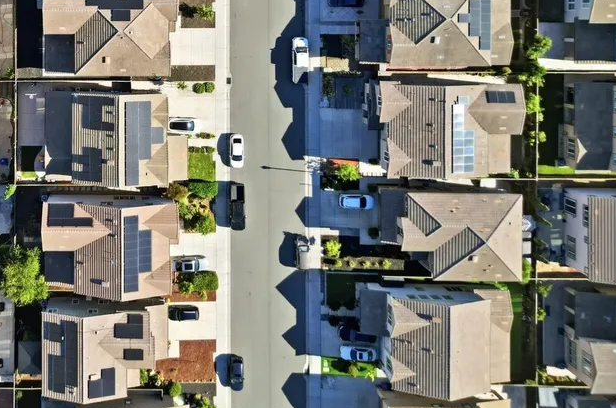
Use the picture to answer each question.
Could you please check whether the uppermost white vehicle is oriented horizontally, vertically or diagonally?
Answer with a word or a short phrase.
vertically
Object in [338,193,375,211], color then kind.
blue car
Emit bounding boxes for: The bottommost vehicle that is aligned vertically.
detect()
[229,352,246,389]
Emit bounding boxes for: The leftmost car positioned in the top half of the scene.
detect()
[171,117,207,134]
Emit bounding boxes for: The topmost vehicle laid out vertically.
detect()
[291,37,311,84]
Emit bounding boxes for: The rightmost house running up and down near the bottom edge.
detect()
[566,283,616,394]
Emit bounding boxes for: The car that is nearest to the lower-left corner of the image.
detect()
[168,305,199,322]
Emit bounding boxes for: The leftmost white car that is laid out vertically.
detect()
[229,133,245,167]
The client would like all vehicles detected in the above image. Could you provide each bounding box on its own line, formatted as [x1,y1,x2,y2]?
[291,37,311,84]
[337,325,377,344]
[228,183,248,229]
[168,305,199,322]
[294,234,312,270]
[174,256,209,273]
[229,133,245,167]
[338,193,375,211]
[229,352,246,389]
[340,344,377,363]
[328,0,365,8]
[171,117,207,134]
